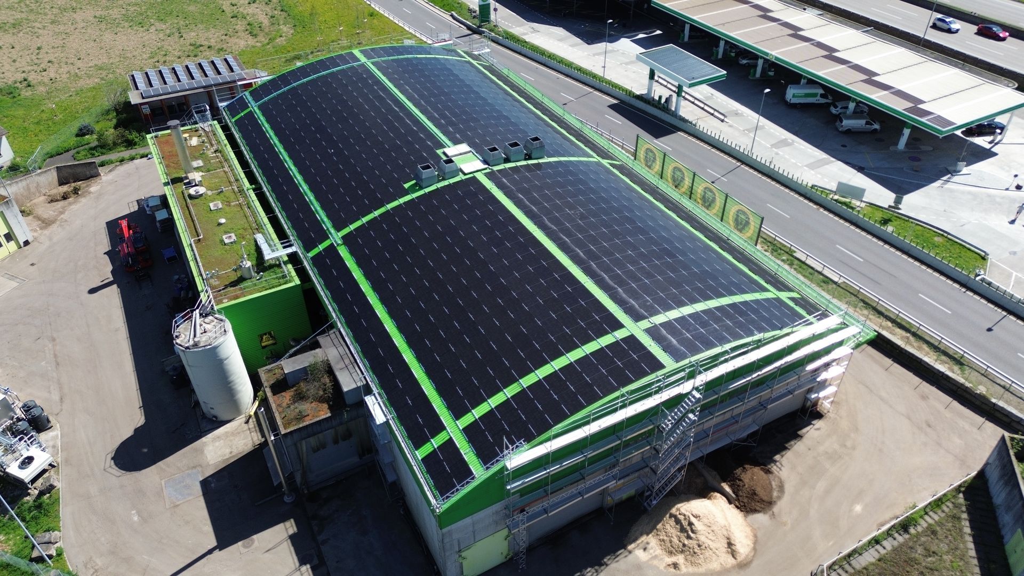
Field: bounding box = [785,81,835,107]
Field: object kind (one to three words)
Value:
vehicle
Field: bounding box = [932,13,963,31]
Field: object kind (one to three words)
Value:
car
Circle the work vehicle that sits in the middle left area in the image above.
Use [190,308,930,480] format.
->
[116,215,156,281]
